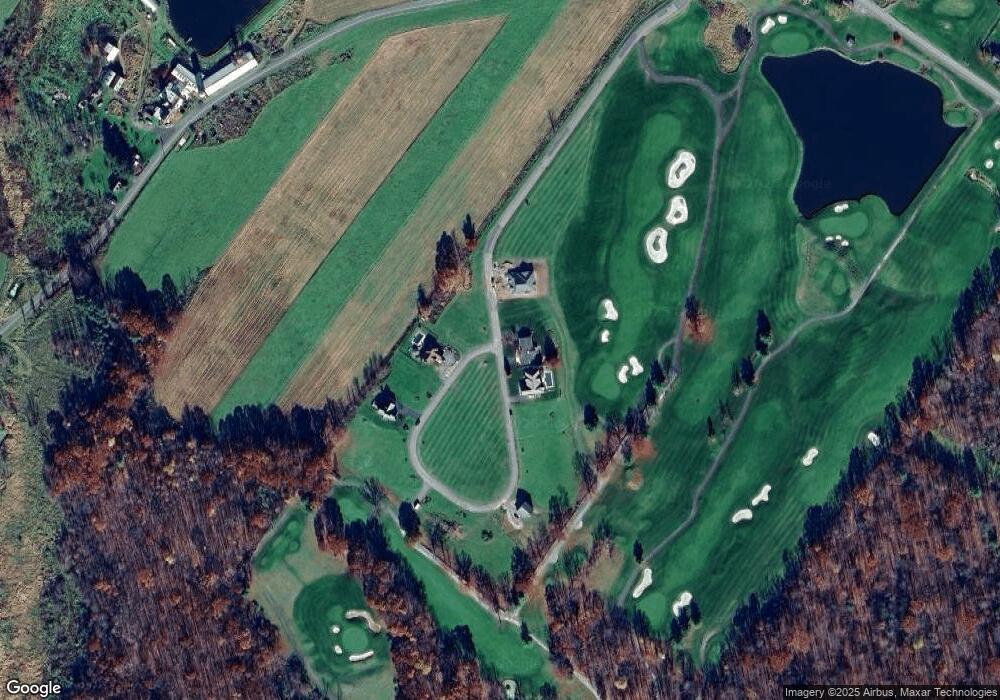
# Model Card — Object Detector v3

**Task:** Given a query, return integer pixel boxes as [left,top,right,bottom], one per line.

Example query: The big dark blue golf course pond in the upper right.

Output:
[761,50,967,219]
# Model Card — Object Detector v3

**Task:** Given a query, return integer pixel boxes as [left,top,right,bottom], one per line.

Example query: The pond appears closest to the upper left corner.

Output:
[161,0,278,55]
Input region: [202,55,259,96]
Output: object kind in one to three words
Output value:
barn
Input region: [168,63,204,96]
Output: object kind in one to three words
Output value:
barn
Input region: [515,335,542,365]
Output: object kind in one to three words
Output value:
house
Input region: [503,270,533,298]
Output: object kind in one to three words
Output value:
house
